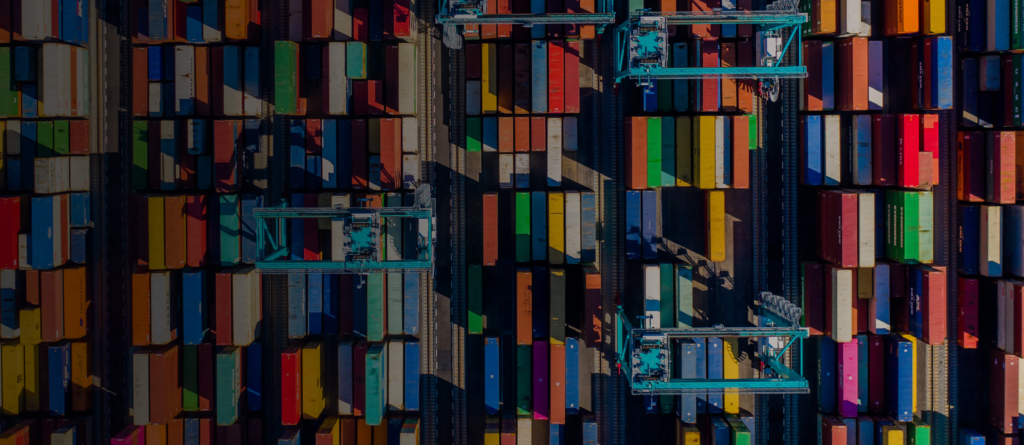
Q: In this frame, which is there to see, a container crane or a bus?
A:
container crane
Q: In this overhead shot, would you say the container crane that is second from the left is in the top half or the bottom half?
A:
top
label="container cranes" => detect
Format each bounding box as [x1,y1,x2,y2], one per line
[611,0,812,105]
[433,0,616,56]
[613,285,815,413]
[253,181,439,293]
